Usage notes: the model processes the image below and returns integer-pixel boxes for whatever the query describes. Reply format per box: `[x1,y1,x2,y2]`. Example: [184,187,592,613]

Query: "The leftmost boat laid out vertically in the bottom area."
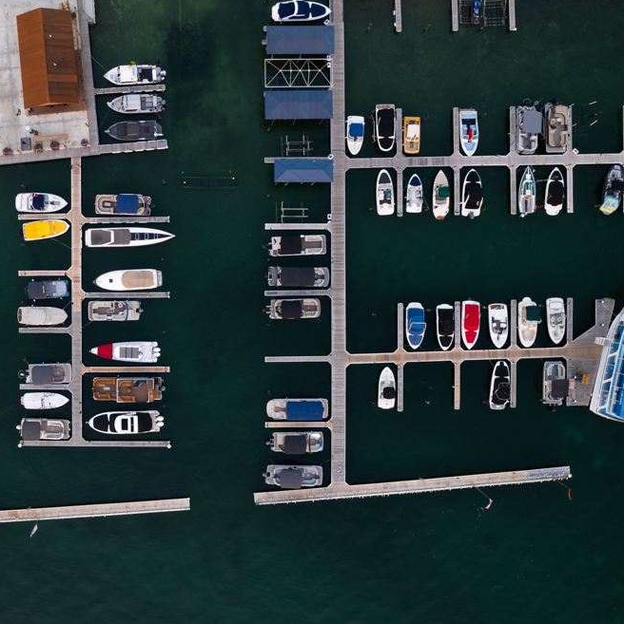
[375,367,395,409]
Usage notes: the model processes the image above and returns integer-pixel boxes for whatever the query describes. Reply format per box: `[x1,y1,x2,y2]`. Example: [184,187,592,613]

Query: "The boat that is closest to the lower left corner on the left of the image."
[15,418,70,440]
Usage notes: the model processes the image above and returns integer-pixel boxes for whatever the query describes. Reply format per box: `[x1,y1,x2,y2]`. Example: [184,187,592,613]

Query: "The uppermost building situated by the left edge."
[17,5,86,116]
